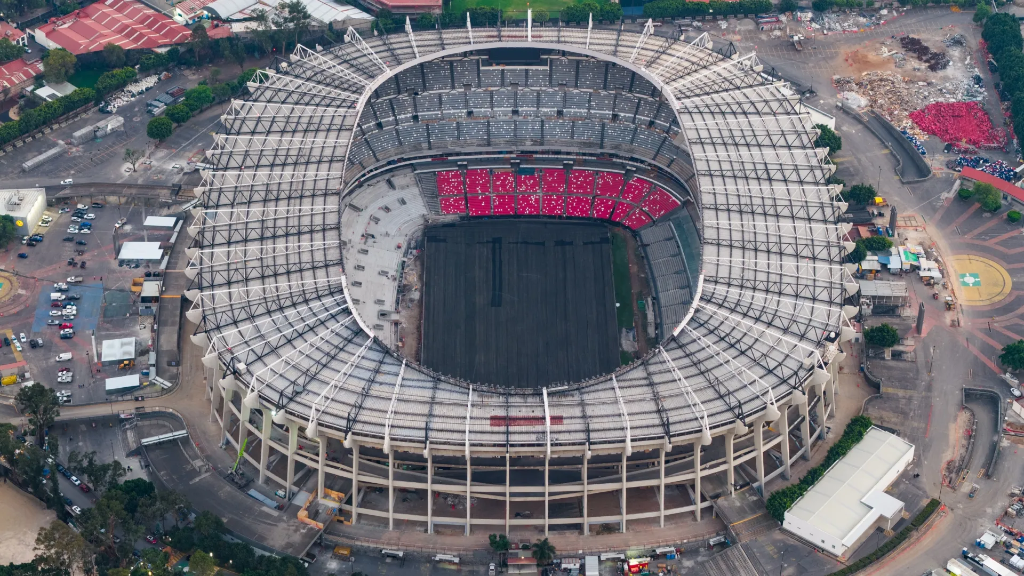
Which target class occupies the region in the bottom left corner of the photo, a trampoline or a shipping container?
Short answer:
shipping container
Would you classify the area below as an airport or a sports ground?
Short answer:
sports ground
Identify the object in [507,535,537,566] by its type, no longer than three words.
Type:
building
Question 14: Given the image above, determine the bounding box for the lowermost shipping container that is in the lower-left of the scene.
[249,486,282,513]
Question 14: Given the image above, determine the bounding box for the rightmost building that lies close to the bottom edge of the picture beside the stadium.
[784,428,914,556]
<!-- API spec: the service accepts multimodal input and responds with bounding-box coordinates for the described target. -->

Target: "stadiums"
[181,12,861,534]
